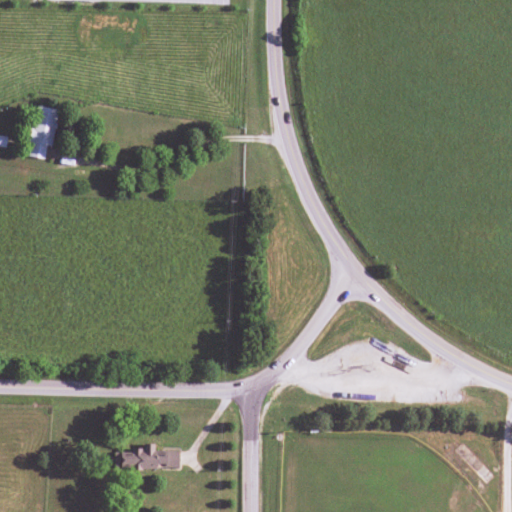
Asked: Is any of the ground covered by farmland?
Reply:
Yes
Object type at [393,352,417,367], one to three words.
vehicle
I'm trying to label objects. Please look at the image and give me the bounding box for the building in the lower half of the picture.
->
[116,444,180,472]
